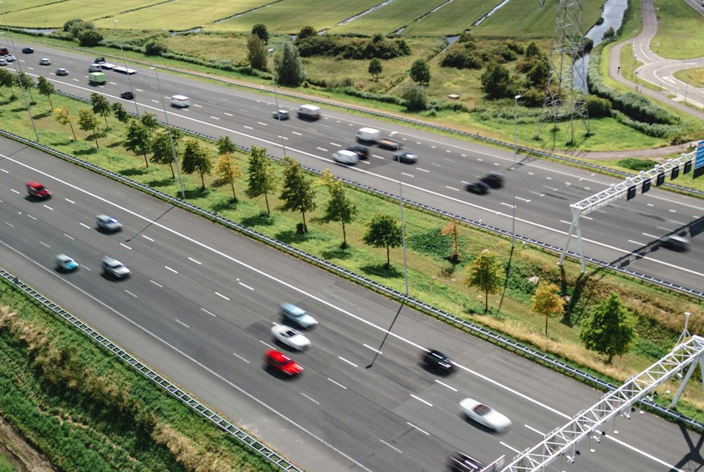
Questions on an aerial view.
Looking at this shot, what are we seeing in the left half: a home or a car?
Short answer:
car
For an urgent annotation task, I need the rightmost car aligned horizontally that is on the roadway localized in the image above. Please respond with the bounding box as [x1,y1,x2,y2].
[659,236,693,252]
